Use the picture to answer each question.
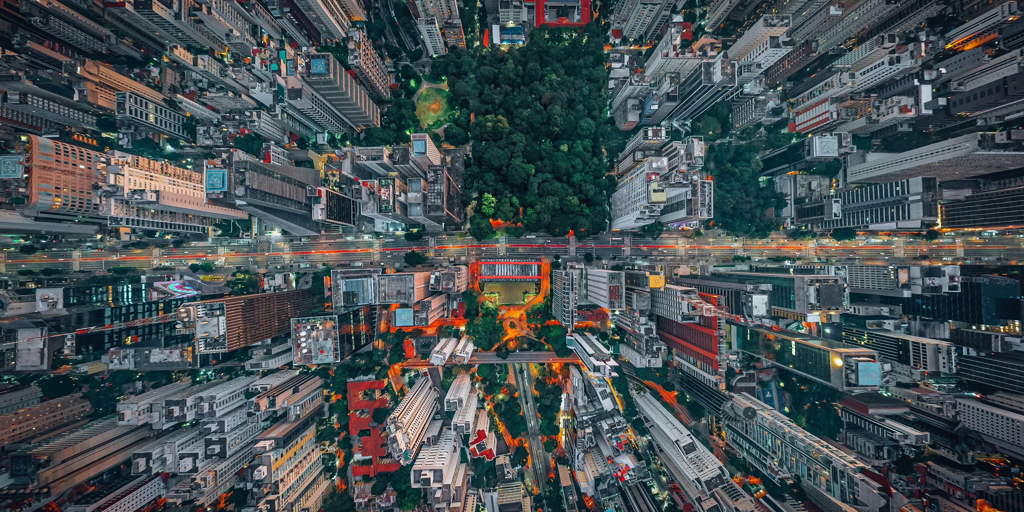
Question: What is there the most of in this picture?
buildings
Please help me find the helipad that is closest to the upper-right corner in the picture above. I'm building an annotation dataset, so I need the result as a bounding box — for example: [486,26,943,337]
[815,136,838,156]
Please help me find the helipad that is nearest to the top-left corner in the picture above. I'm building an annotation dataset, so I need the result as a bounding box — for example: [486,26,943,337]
[0,156,25,178]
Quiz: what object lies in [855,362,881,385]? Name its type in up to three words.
helipad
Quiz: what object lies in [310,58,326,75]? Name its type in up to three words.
helipad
